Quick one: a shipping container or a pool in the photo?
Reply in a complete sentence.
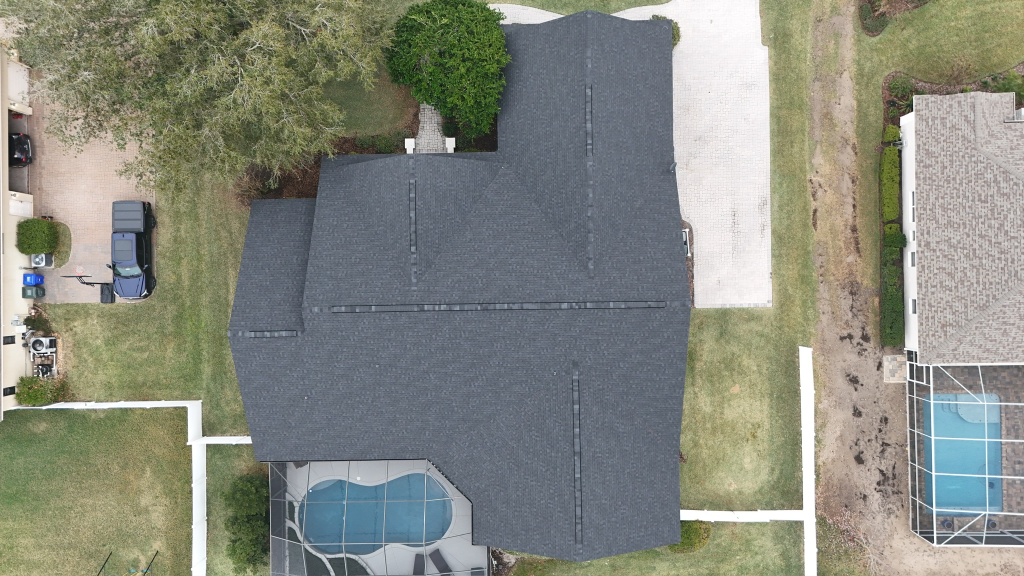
The image shows a pool.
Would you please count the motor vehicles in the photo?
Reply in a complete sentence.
The photo contains 2 motor vehicles.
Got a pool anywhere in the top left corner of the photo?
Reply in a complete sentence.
No, there's no pool to be seen in the top left corner of the photo.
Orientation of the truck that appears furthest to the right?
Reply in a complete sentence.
In this picture, the truck that appears furthest to the right lies vertically.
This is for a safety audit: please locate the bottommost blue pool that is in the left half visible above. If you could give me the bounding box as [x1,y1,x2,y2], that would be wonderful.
[295,469,457,559]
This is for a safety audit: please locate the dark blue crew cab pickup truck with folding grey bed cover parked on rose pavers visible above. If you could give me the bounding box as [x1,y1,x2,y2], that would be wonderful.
[108,200,158,299]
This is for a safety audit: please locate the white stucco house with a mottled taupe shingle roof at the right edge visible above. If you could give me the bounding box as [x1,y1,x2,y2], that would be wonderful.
[900,91,1024,367]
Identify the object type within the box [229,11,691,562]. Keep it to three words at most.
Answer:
house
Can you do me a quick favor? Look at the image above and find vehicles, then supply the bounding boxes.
[108,200,158,299]
[8,134,35,168]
